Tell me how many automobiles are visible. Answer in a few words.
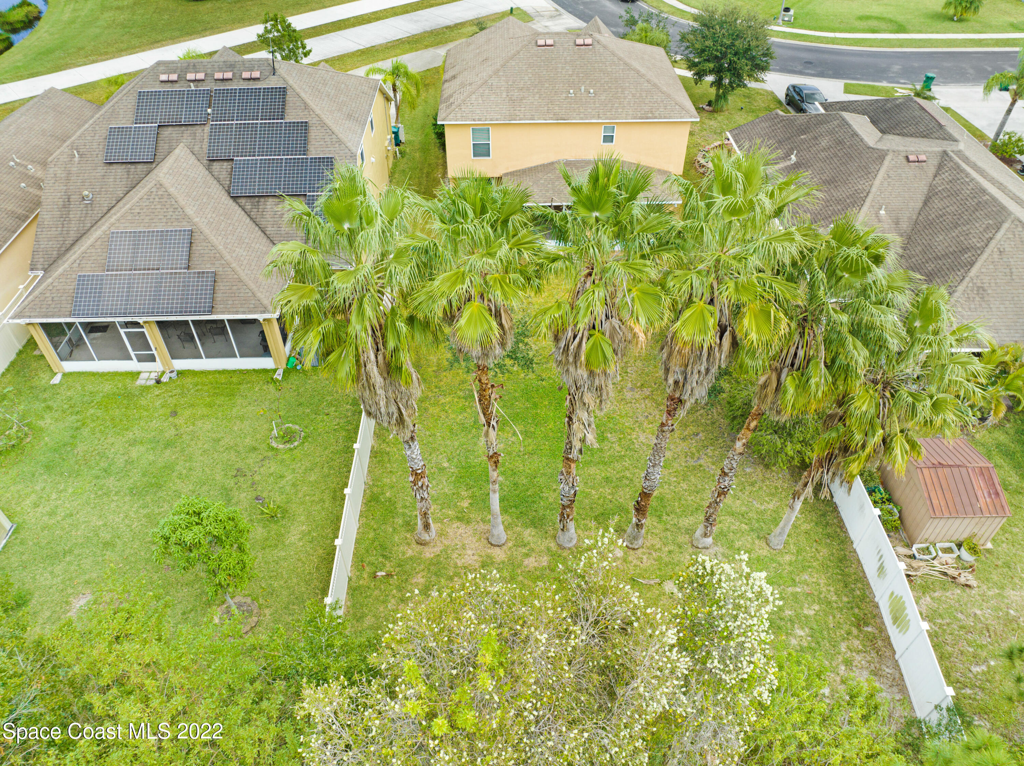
1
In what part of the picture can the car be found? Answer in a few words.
top right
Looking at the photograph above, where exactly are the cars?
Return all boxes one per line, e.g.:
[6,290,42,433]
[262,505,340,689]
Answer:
[783,83,837,114]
